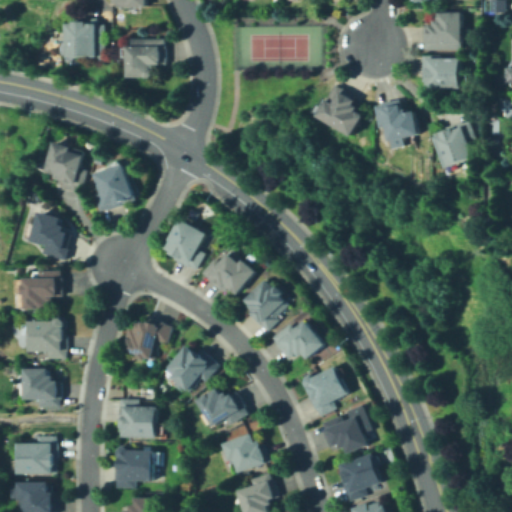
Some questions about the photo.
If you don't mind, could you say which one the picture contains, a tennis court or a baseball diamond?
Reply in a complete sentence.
I can see a tennis court in this picture.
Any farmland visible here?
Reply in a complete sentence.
No, there's no farmland in this view.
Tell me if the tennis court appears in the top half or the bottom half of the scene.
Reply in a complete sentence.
It is in the top half that the tennis court appears.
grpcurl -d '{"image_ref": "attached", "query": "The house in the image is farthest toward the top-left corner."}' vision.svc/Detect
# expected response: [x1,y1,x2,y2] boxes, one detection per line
[60,20,97,60]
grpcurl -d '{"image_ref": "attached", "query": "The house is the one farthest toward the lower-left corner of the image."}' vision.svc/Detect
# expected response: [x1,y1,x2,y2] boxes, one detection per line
[10,482,52,512]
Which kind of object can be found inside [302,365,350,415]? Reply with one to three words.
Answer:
house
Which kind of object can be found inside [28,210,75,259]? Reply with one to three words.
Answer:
house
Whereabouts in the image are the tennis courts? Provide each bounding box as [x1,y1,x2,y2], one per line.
[236,26,324,67]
